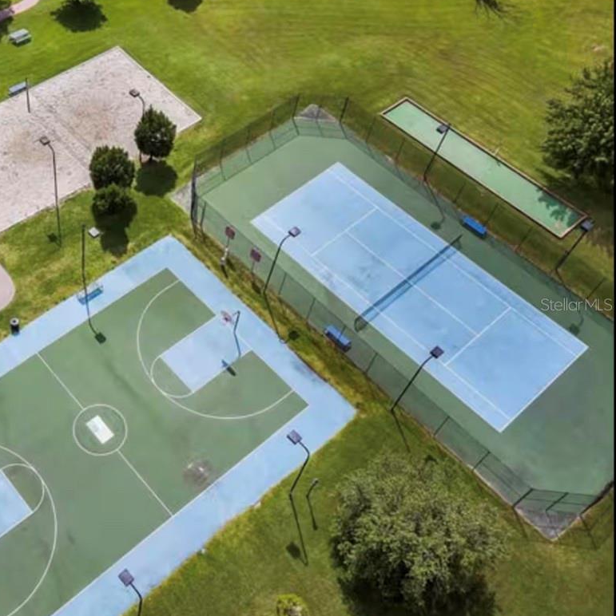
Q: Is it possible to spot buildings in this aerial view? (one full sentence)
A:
No, the scene contains no building.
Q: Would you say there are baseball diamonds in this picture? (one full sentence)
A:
No, the picture doesn't show any baseball diamond.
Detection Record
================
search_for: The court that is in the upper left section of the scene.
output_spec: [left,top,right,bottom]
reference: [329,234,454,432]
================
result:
[0,45,207,232]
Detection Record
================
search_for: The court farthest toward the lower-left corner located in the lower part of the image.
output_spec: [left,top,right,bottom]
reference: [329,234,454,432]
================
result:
[0,235,363,616]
